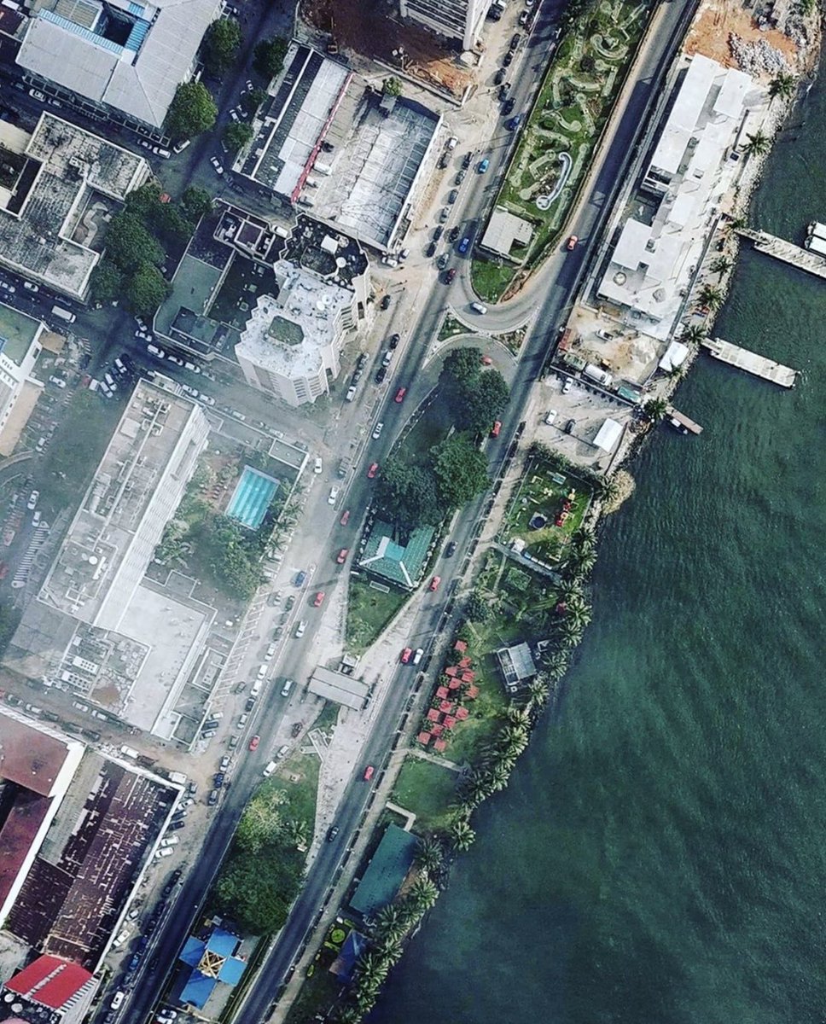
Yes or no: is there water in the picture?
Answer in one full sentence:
Yes, water can be seen from above here.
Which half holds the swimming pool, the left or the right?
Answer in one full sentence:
The swimming pool is on the left side of the image.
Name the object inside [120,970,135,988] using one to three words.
car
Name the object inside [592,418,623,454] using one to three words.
tent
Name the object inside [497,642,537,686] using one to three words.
building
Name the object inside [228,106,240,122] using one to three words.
vehicle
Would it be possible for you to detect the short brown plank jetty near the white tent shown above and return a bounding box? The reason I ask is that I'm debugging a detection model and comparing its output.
[664,402,704,437]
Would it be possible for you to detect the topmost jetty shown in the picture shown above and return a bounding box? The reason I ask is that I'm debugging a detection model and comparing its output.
[734,227,826,282]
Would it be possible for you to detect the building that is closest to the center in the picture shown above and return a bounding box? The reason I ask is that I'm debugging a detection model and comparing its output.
[358,519,436,589]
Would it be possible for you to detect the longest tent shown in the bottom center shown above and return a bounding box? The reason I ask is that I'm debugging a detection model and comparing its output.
[329,926,369,984]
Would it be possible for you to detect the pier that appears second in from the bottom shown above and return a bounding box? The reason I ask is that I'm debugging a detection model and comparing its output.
[700,333,803,390]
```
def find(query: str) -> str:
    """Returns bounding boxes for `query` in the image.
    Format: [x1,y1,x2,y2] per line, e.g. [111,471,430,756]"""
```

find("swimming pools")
[224,461,282,534]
